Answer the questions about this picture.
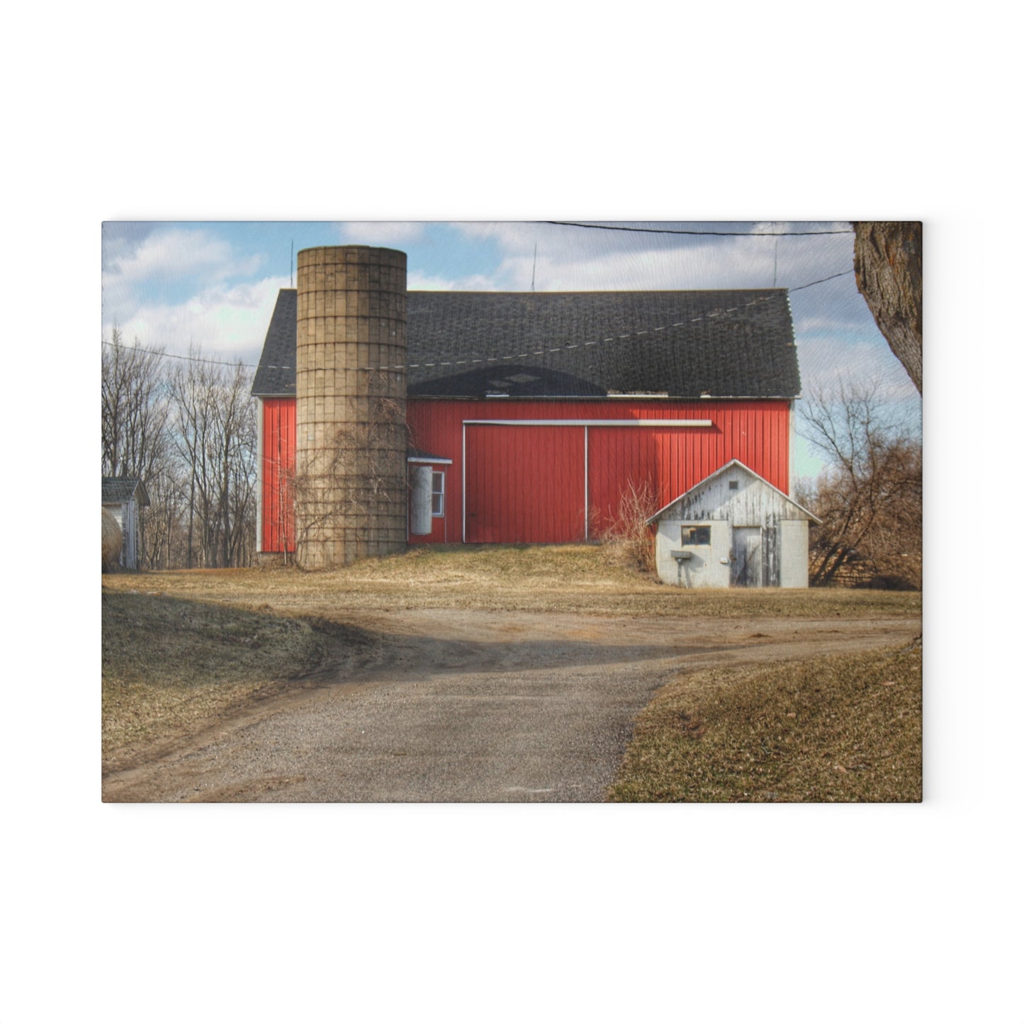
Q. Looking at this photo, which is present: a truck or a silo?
silo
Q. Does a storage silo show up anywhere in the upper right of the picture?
No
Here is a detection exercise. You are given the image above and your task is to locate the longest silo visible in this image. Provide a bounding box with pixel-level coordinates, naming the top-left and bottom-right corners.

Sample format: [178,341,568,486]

[296,245,407,571]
